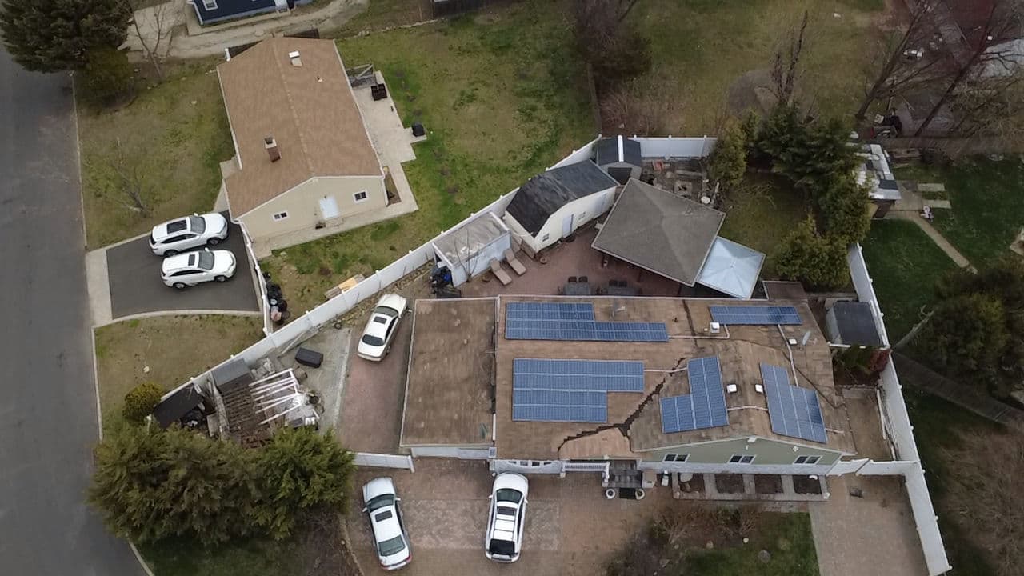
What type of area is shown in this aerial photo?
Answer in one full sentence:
The area seen from above is a residential area.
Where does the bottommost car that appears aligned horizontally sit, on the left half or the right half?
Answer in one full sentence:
It is on the left.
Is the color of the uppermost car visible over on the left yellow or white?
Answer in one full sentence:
In this view, the uppermost car visible over on the left is white.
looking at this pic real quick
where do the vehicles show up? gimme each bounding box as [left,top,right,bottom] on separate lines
[361,476,415,576]
[152,216,229,258]
[483,472,529,570]
[161,249,238,291]
[356,294,406,364]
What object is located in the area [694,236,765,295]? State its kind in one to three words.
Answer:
gazebo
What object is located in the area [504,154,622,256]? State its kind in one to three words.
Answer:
shed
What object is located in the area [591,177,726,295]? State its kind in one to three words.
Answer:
building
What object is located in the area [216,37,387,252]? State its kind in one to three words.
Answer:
house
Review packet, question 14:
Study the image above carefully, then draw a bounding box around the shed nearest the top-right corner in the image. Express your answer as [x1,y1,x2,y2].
[850,143,902,218]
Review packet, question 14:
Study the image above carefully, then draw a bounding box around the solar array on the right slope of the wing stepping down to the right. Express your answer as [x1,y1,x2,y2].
[760,363,827,443]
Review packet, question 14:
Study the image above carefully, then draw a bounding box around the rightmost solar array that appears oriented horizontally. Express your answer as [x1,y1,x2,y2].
[709,306,802,325]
